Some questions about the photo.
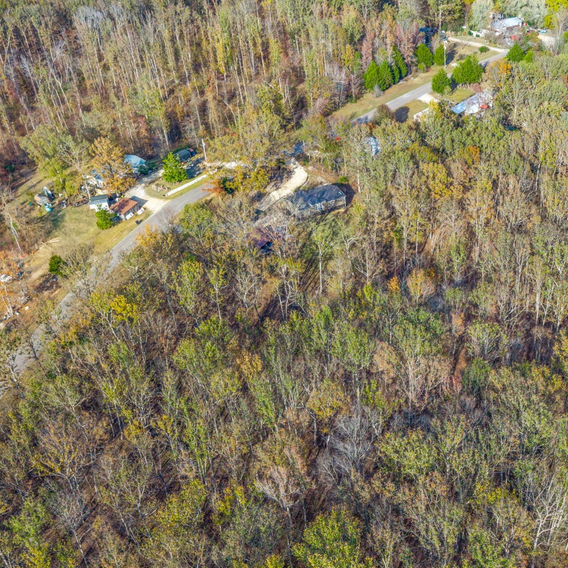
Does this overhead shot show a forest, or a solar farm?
forest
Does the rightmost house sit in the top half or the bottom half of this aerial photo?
top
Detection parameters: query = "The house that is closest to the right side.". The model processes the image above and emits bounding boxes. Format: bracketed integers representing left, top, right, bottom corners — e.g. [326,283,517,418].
[475,12,526,39]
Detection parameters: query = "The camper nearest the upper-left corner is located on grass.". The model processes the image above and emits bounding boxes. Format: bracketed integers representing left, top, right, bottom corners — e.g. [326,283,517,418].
[34,192,52,204]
